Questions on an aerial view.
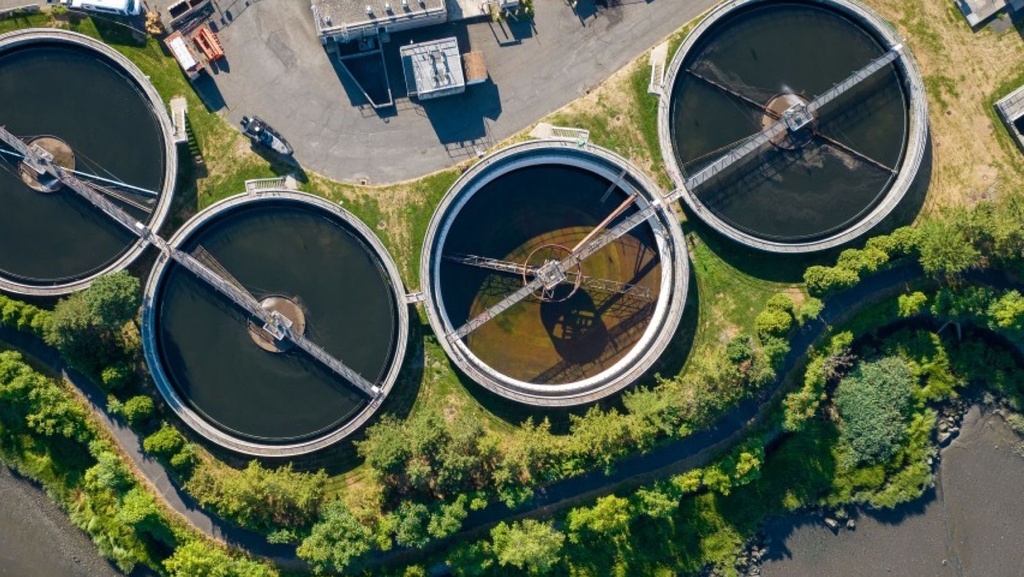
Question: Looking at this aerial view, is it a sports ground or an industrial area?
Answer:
industrial area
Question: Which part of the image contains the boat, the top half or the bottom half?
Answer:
top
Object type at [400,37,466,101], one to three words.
building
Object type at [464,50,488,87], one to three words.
shed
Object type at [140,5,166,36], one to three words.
work vehicle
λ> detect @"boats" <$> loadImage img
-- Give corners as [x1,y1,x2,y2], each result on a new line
[236,112,295,157]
